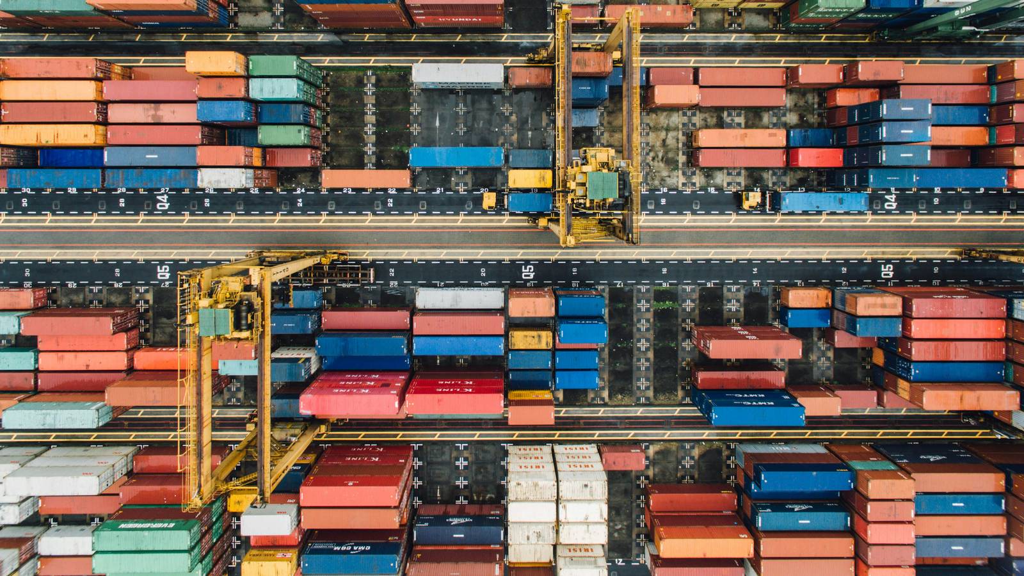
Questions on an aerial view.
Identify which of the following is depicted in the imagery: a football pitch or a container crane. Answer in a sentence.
It is a container crane that can be seen here.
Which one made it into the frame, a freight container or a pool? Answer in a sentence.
Of the two, only a freight container appears.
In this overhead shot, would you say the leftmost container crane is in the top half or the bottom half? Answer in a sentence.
The leftmost container crane is in the bottom half of the image.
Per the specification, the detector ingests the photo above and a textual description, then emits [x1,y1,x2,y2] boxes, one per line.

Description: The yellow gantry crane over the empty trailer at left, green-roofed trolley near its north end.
[165,244,348,513]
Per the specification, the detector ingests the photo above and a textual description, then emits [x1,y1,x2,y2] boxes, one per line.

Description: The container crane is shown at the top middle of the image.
[524,8,644,256]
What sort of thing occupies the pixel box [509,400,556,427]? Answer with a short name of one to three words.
shipping container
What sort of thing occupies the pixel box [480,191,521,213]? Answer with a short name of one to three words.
truck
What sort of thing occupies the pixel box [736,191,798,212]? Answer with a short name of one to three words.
truck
